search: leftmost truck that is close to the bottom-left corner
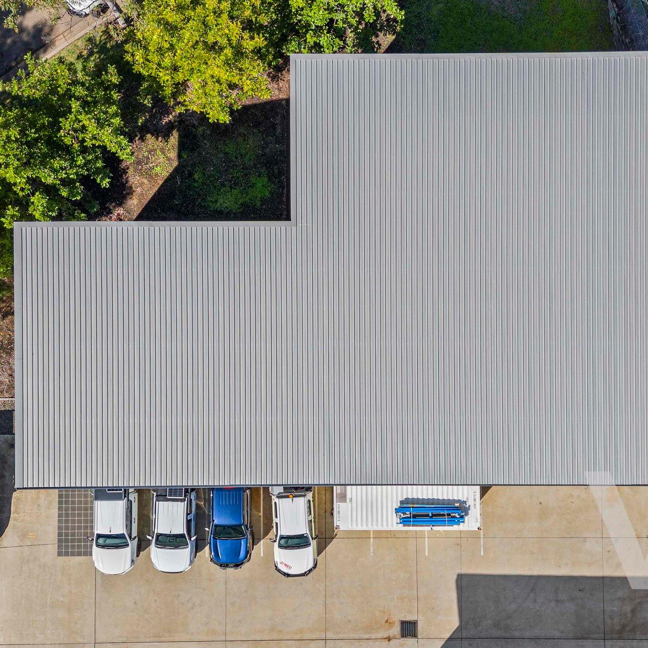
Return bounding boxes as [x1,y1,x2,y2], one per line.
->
[88,487,142,577]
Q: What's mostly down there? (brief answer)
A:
buildings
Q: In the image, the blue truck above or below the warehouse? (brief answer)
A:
below it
